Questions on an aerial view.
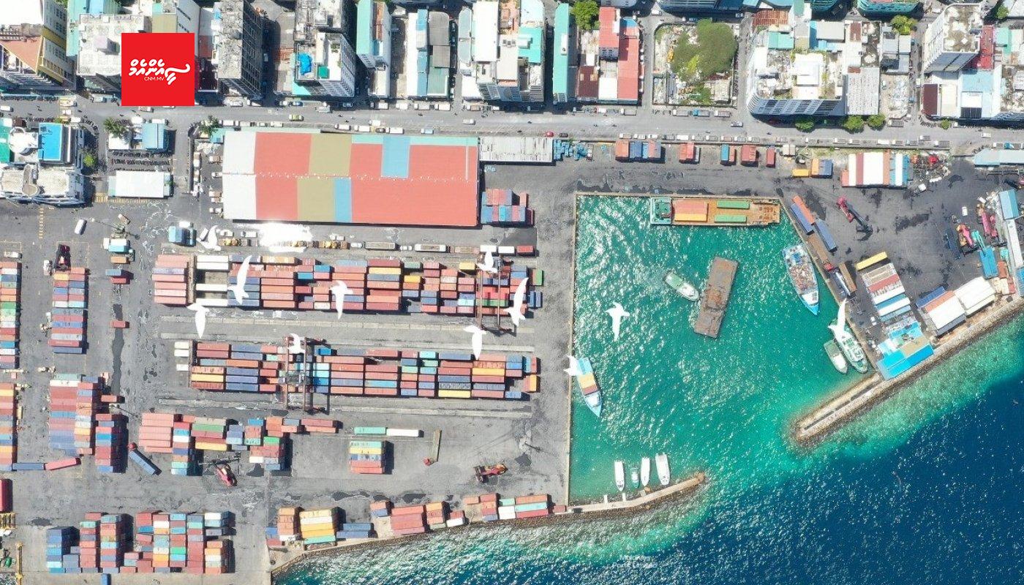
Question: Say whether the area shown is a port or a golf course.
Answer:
port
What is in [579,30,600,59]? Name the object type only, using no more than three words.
house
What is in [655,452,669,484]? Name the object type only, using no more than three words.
boat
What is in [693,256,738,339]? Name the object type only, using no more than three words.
ship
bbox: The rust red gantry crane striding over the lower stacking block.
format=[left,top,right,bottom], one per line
[286,337,322,413]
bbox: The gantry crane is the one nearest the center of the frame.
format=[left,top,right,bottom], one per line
[480,246,508,338]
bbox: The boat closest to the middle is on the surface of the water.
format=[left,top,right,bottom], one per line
[577,356,601,418]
